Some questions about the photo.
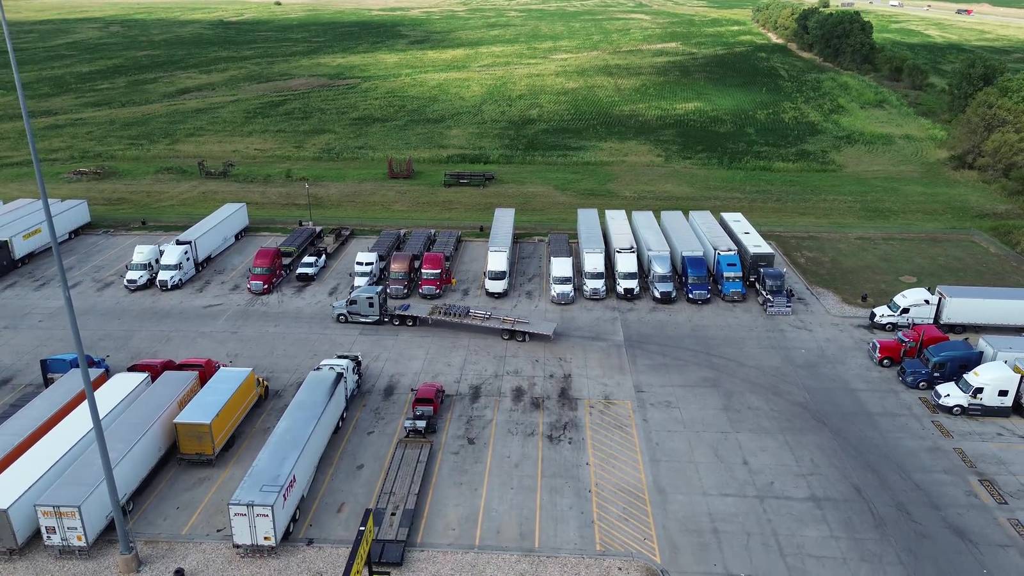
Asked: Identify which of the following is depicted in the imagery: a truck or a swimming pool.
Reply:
truck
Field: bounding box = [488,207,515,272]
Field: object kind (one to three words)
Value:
trailer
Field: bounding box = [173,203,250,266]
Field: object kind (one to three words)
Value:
trailer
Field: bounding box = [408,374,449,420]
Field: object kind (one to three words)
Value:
truck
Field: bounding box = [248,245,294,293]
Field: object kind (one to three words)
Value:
truck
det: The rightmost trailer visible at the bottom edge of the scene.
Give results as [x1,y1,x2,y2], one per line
[363,412,433,567]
